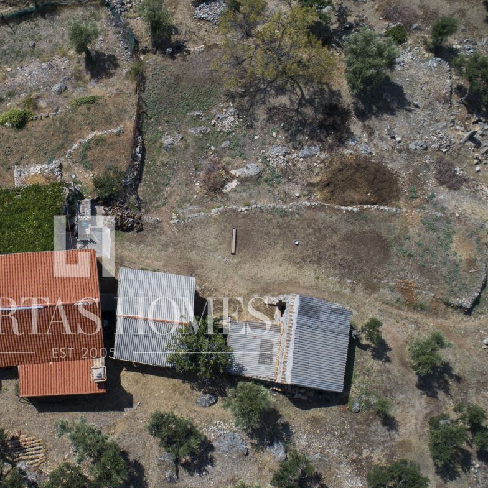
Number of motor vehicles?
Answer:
none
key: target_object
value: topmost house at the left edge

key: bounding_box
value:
[0,248,106,370]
